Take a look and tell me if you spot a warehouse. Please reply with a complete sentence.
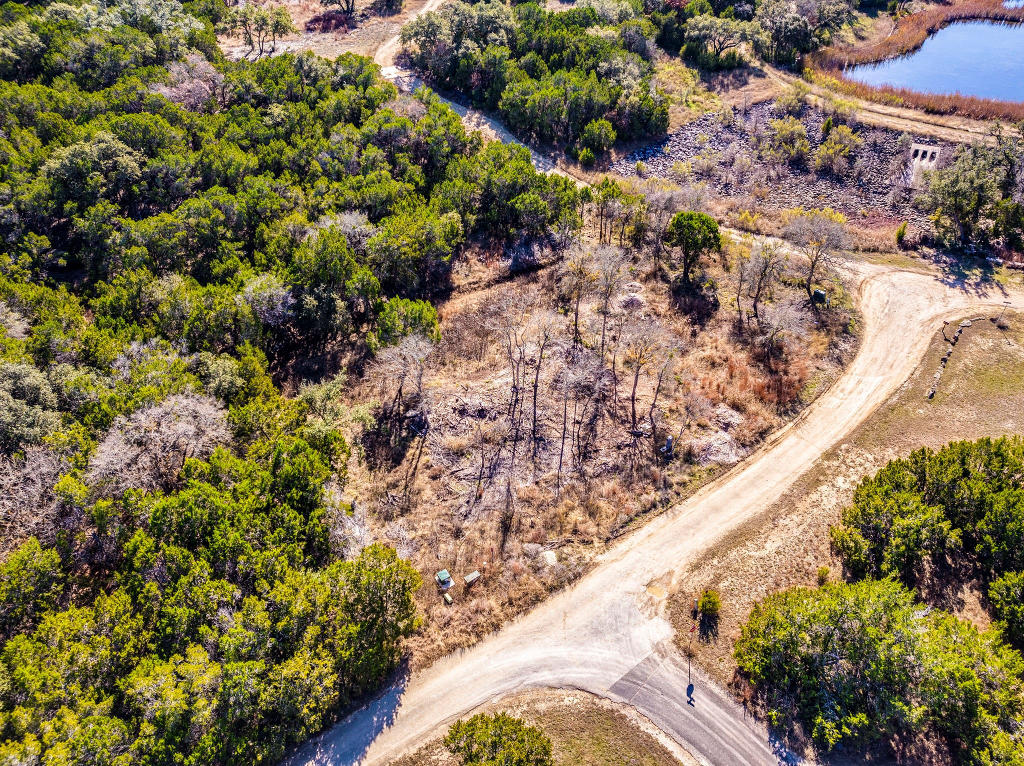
No, there appears to be no warehouse in this shot.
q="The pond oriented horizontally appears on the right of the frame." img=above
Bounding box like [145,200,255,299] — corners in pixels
[845,20,1024,104]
